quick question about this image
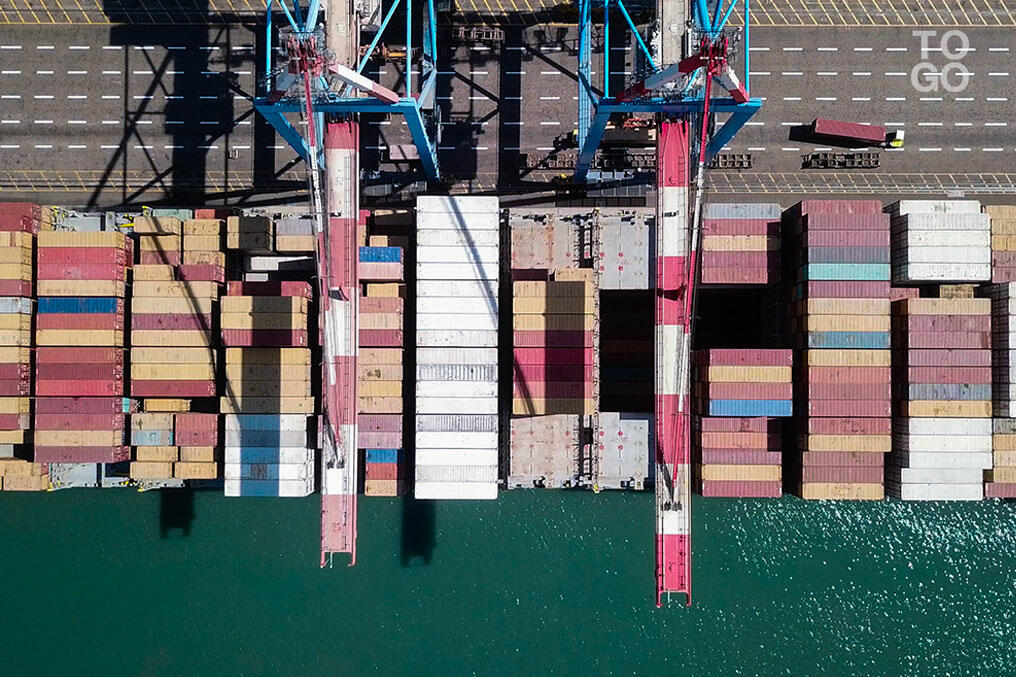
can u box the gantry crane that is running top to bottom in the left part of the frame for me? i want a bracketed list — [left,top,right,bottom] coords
[251,0,454,568]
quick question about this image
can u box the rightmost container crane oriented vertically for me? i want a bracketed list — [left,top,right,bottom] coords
[557,0,762,608]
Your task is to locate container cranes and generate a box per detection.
[251,0,454,568]
[557,0,762,608]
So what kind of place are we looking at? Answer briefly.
port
